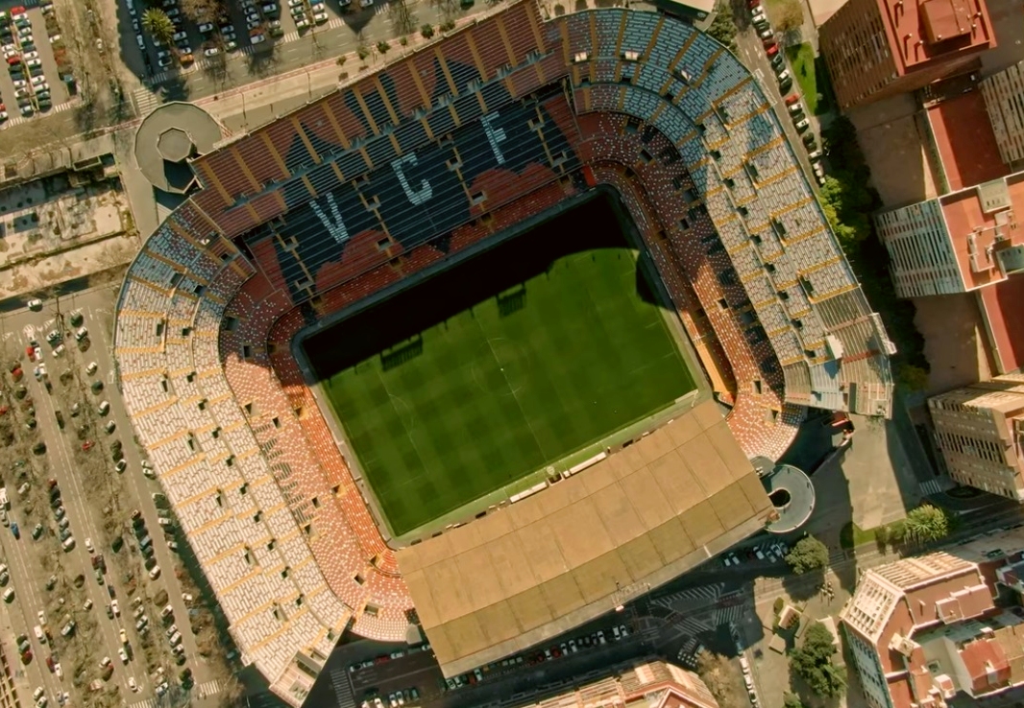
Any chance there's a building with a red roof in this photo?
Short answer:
Yes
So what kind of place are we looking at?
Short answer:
sports ground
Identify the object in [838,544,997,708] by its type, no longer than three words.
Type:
building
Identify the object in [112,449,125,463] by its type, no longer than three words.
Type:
vehicle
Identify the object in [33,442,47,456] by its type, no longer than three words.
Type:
car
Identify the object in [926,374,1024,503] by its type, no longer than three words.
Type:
building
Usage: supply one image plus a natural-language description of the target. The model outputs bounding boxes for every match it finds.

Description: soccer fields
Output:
[301,192,699,540]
